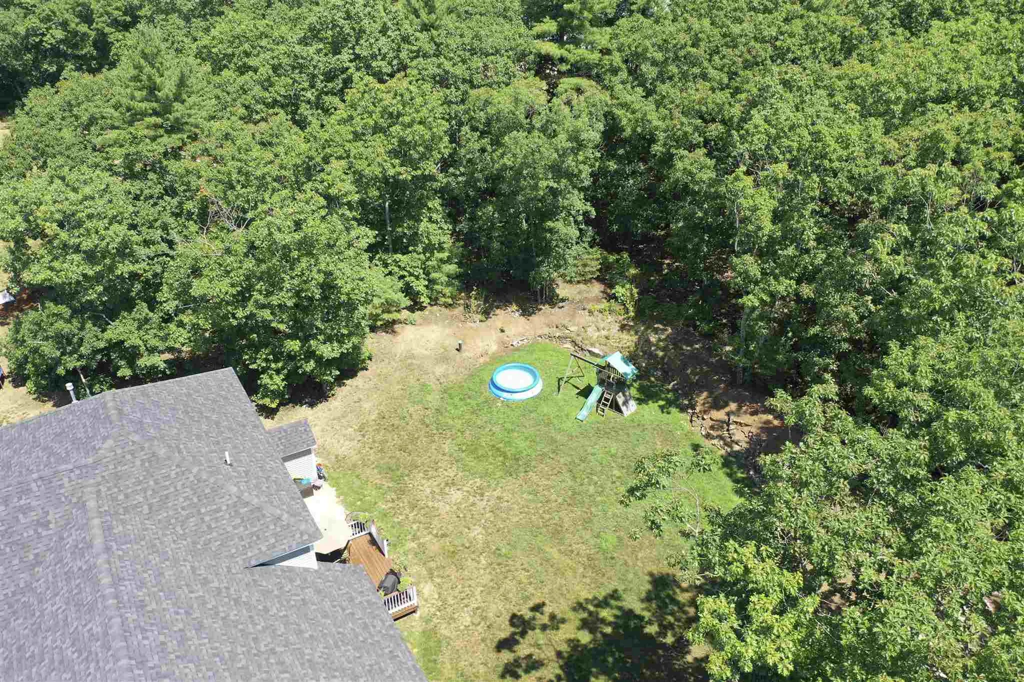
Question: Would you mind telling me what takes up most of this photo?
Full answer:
The largest share of the image is taken up by trees.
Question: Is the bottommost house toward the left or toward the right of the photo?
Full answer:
It is on the left.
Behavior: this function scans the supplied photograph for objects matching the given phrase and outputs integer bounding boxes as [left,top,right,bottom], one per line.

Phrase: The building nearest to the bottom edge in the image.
[0,367,429,682]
